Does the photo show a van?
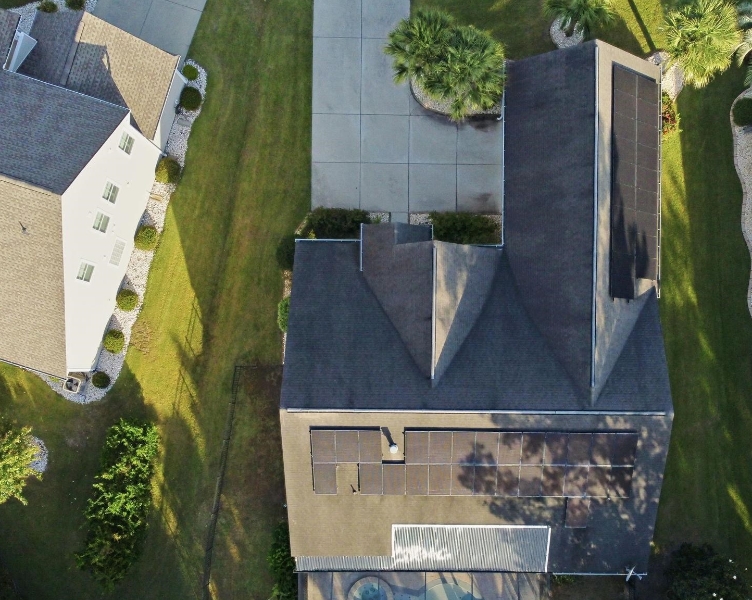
No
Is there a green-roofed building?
No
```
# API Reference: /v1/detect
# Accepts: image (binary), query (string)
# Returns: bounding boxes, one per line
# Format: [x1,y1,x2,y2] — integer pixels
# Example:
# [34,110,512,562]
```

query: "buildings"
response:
[280,40,672,575]
[0,4,199,384]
